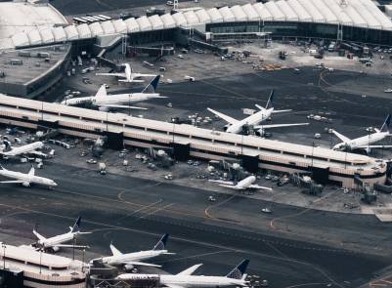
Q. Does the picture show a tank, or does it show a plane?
plane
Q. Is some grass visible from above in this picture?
No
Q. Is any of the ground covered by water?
No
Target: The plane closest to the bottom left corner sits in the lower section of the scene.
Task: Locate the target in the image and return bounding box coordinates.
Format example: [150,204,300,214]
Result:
[33,216,93,251]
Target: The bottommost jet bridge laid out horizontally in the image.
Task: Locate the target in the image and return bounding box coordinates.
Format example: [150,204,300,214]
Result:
[84,271,165,288]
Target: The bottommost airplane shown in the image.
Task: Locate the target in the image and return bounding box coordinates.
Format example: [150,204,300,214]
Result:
[117,260,252,288]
